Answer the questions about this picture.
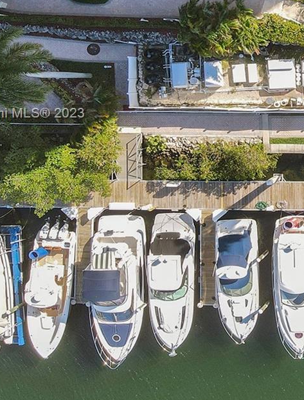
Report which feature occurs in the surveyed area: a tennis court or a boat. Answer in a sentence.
I can see a boat in this picture.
